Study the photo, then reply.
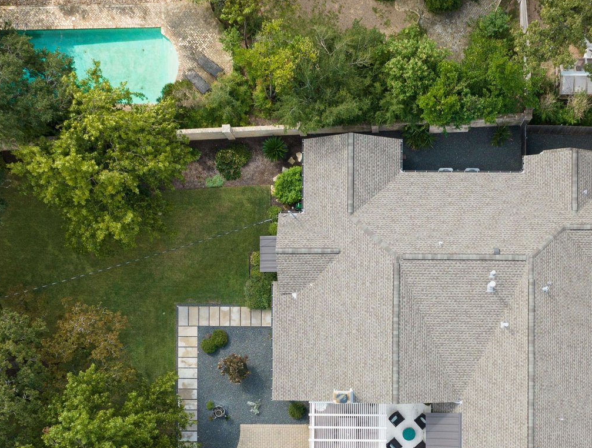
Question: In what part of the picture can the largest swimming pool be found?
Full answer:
You can find the largest swimming pool in the top left area of the picture.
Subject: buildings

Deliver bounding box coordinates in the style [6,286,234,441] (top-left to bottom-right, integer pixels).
[259,134,592,448]
[552,66,592,95]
